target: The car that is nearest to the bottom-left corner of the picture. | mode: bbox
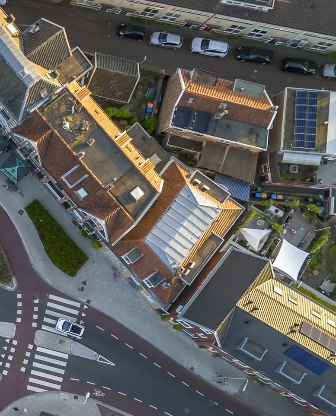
[54,317,90,339]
